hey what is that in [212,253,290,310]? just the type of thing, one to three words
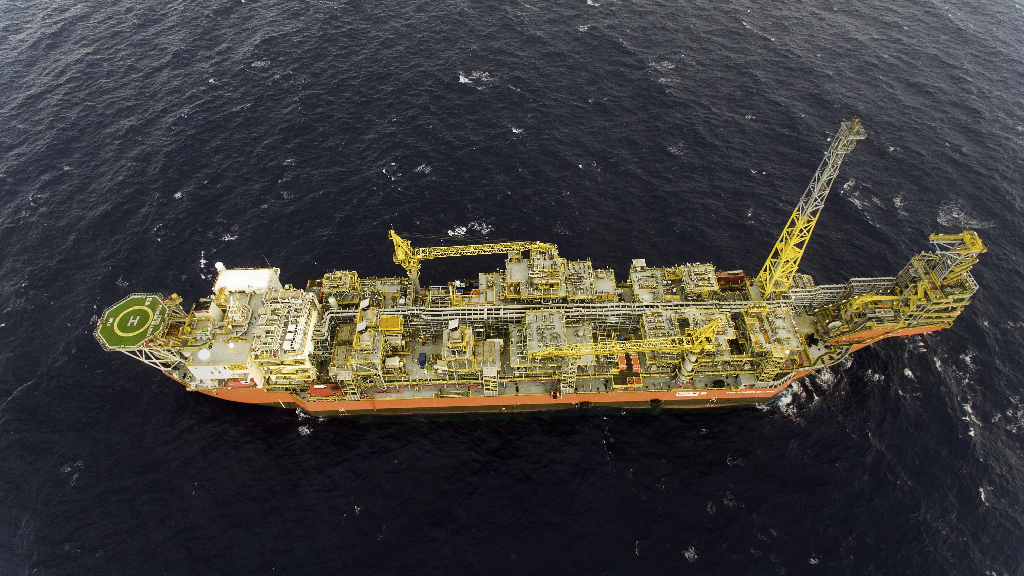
house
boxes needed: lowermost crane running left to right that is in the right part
[532,314,727,391]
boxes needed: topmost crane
[385,225,556,294]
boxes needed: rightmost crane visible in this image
[838,289,918,325]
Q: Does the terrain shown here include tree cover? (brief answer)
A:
No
